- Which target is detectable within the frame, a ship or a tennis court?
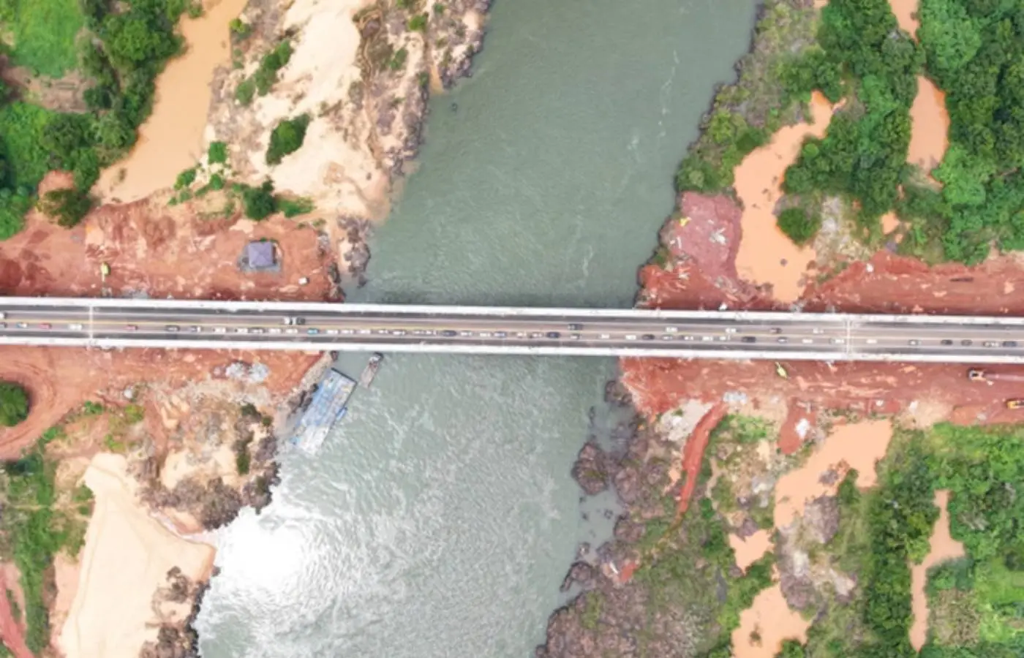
ship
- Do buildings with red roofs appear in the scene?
No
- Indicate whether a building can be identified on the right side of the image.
No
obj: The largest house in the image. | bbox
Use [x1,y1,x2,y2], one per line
[246,242,279,273]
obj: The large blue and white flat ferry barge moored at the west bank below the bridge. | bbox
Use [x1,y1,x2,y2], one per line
[295,367,357,454]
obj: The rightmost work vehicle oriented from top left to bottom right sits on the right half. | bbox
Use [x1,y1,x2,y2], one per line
[772,359,787,377]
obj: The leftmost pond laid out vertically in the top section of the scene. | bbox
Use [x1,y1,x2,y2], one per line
[732,93,844,300]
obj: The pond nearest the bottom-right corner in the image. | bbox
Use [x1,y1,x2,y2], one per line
[909,492,963,651]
